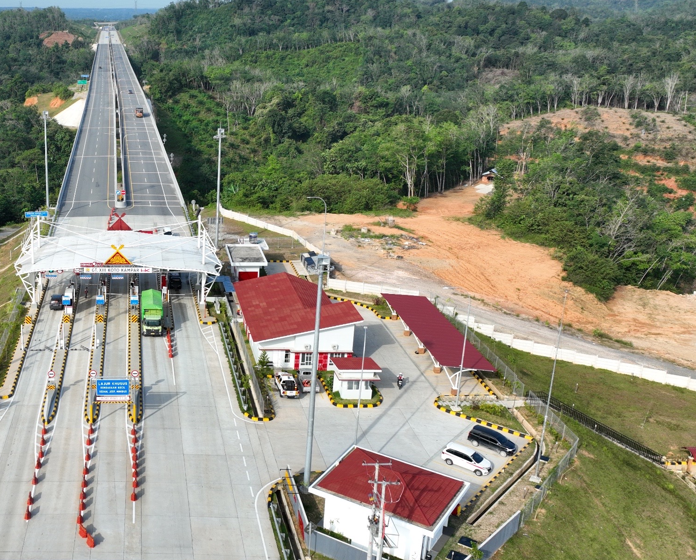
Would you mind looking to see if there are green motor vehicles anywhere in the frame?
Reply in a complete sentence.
Yes, this view includes a green motor vehicle.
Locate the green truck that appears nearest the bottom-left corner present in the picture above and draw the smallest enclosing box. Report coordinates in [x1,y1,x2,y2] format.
[140,291,165,333]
